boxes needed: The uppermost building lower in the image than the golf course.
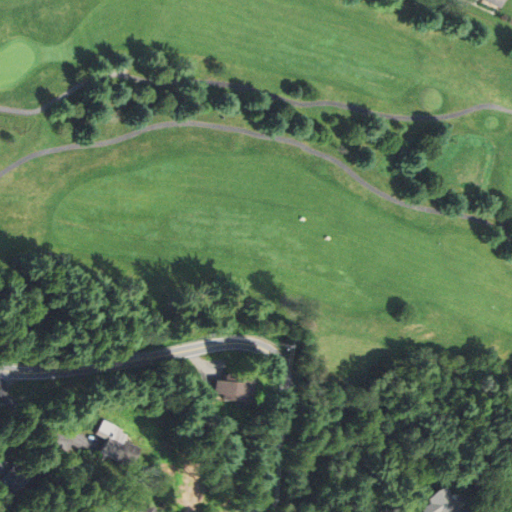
[217,377,247,406]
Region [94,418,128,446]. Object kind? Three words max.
house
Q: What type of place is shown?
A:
golf course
